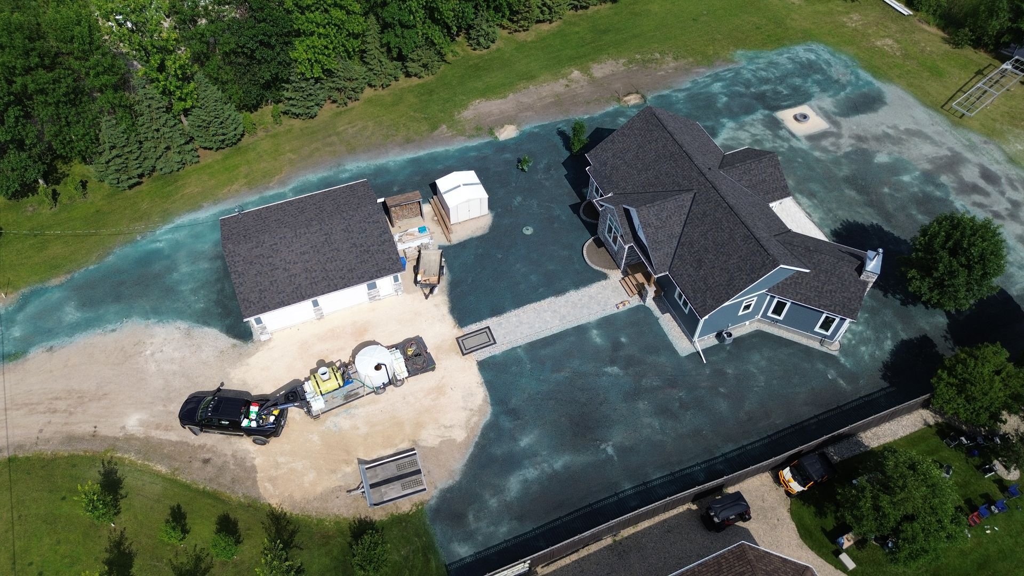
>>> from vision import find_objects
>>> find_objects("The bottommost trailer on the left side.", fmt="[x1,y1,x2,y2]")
[348,448,430,508]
